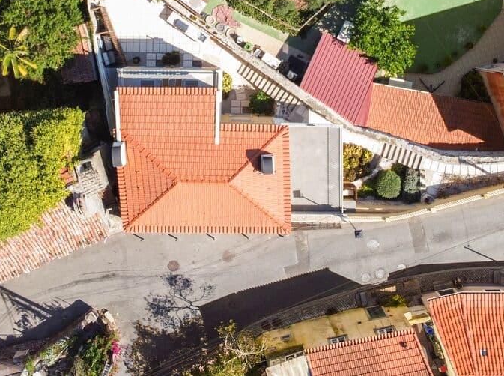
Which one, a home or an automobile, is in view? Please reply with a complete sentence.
It is a home that can be seen here.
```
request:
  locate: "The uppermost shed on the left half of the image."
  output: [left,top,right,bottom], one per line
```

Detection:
[64,22,99,83]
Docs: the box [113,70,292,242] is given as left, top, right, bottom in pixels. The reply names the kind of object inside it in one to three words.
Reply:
house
